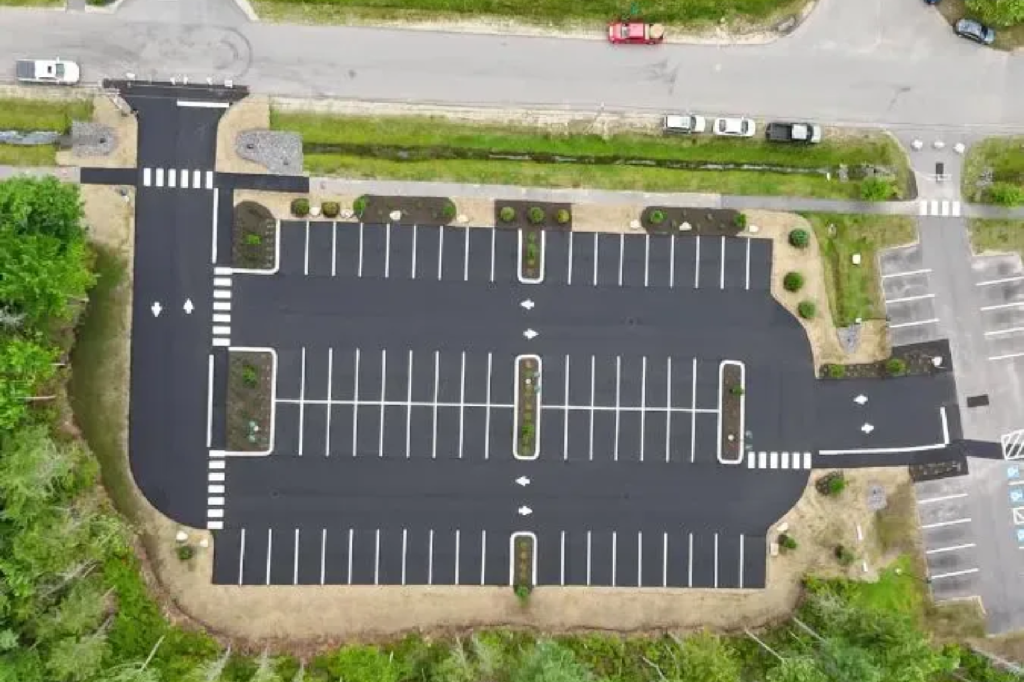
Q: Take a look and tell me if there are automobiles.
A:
Yes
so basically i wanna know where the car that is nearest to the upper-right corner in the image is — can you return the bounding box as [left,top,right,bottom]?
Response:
[949,15,994,47]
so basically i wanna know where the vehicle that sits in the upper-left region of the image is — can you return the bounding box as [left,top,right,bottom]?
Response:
[15,58,82,85]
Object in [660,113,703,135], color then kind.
white car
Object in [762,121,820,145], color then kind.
gray truck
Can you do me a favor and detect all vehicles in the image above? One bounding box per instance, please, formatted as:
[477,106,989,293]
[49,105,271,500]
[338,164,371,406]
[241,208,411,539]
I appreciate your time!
[15,58,82,85]
[762,121,820,145]
[712,115,754,137]
[607,19,662,46]
[949,15,994,47]
[660,113,703,135]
